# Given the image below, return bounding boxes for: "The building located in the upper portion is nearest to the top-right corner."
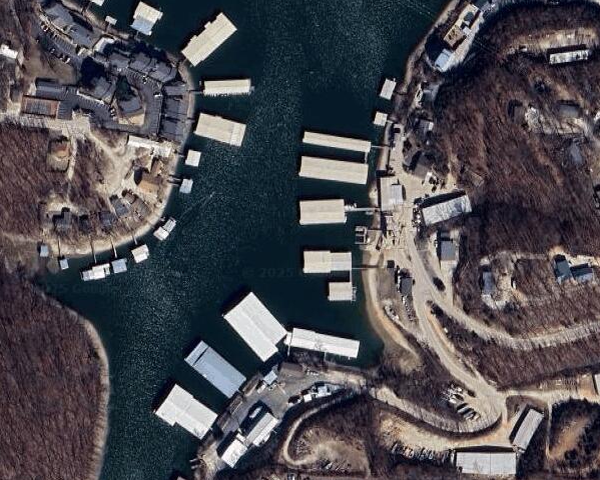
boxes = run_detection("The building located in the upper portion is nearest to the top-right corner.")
[550,50,589,63]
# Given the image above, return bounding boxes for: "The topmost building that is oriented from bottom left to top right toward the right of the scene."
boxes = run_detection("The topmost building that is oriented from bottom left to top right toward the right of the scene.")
[444,4,478,47]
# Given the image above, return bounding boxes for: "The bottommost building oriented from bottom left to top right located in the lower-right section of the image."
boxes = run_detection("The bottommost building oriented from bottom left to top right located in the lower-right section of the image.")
[513,411,544,449]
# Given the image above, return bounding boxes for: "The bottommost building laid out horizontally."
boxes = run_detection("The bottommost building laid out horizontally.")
[458,452,517,475]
